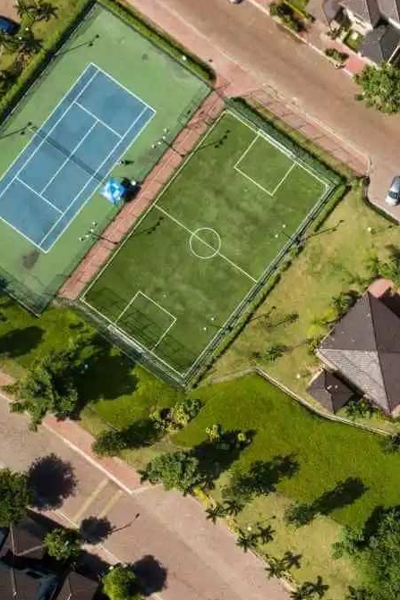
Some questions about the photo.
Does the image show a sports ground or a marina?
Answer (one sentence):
What you see here is a sports ground.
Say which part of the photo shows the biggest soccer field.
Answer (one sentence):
The biggest soccer field is in the center part of the image.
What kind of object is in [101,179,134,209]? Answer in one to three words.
tent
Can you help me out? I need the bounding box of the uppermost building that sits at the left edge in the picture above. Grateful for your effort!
[0,522,47,565]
